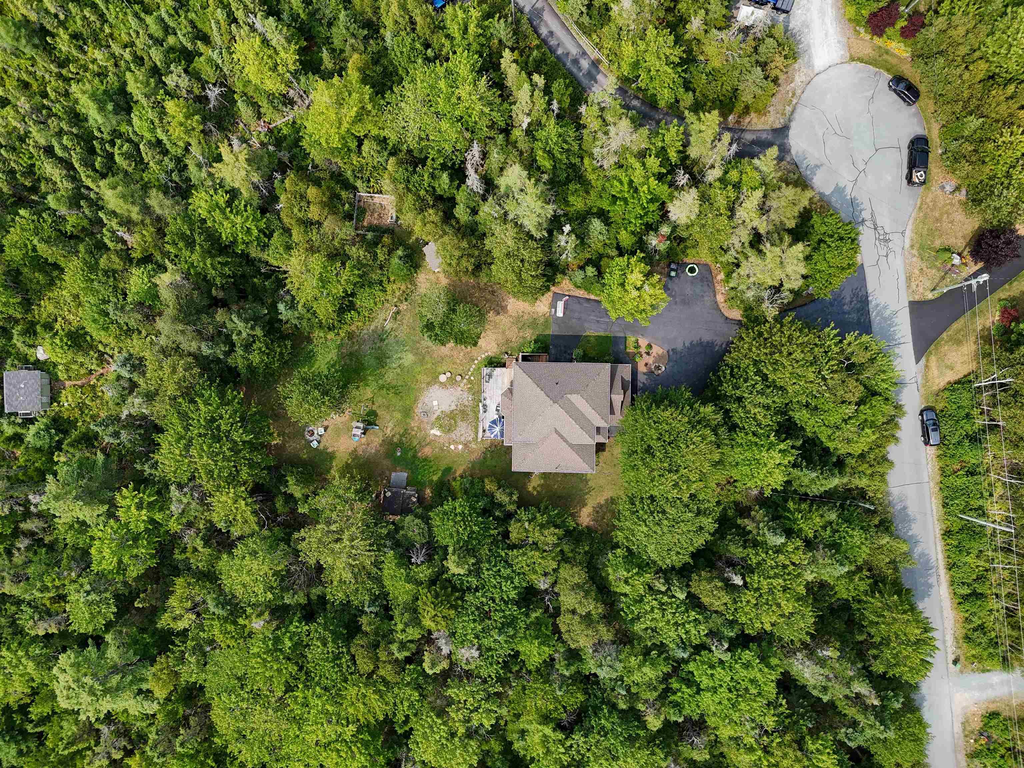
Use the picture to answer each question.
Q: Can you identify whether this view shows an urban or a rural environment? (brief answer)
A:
rural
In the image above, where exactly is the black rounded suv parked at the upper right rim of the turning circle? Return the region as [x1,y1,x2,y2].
[888,70,928,106]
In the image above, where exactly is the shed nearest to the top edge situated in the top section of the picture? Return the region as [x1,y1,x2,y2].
[424,242,449,274]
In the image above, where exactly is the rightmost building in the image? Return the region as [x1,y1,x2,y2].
[500,362,631,473]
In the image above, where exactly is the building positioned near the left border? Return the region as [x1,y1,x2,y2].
[3,365,67,419]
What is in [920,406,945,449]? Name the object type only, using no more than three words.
car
